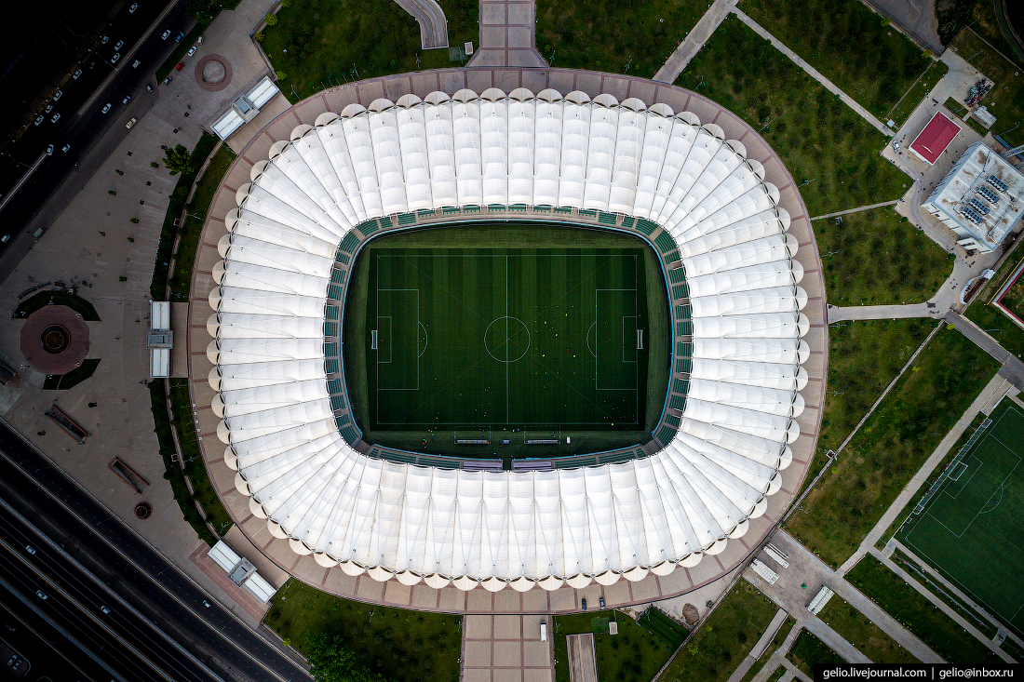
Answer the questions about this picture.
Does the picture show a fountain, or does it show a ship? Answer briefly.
fountain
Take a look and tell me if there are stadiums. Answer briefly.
Yes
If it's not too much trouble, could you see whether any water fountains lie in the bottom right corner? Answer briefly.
No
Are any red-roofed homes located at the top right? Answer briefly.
Yes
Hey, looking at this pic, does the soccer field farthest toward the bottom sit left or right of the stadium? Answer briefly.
on its right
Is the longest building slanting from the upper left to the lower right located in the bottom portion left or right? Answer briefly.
left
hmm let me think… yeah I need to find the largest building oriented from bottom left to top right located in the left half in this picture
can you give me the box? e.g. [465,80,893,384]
[210,76,282,142]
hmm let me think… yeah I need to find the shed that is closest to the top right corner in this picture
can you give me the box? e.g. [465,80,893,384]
[971,107,996,130]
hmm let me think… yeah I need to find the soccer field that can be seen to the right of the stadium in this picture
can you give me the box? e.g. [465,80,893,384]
[896,395,1024,640]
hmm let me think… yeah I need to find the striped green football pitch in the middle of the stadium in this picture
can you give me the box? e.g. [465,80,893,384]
[348,226,666,457]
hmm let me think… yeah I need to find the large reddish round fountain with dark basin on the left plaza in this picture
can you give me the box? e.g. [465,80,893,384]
[21,306,88,374]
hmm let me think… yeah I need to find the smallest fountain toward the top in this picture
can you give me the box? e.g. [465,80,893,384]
[195,53,232,91]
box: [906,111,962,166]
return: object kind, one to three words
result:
house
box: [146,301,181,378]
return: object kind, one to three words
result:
building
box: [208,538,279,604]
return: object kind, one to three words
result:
building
